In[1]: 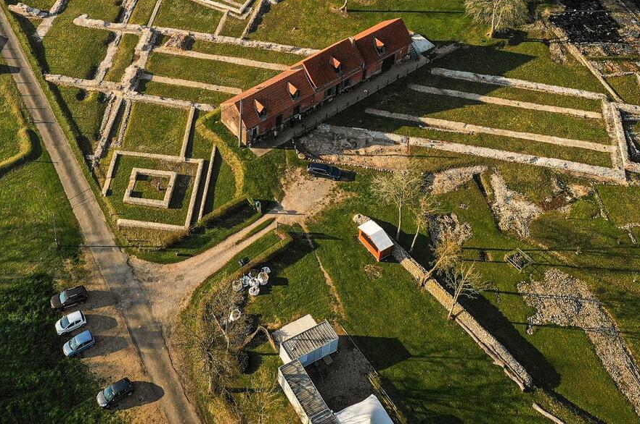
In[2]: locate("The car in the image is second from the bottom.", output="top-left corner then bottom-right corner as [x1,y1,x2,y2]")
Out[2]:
[62,330,97,358]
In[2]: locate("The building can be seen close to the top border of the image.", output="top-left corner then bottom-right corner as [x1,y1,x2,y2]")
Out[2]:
[217,16,413,148]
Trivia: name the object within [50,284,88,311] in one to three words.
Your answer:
car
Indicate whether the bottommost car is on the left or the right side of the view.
left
